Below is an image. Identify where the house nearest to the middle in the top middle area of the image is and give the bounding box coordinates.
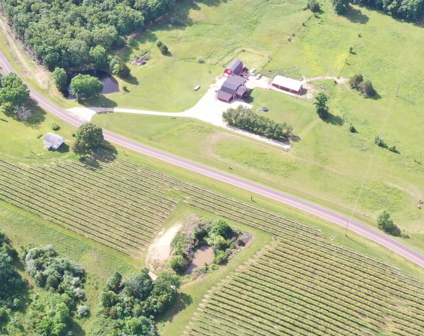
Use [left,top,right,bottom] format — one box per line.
[217,76,248,102]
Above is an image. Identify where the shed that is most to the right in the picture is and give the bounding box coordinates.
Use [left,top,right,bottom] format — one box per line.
[271,75,305,94]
